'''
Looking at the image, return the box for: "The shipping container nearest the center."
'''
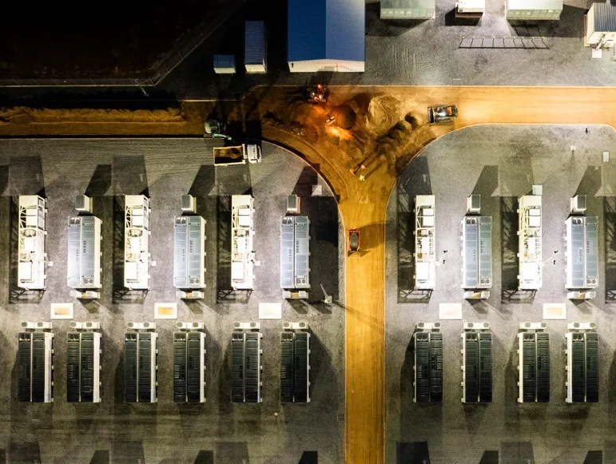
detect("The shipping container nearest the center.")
[277,218,308,289]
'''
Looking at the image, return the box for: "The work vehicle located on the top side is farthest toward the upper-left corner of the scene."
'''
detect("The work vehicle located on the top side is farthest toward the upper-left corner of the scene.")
[201,116,241,141]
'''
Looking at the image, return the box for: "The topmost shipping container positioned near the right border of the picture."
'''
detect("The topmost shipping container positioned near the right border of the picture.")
[562,218,596,289]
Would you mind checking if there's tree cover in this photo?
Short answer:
No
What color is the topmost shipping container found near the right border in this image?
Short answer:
white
